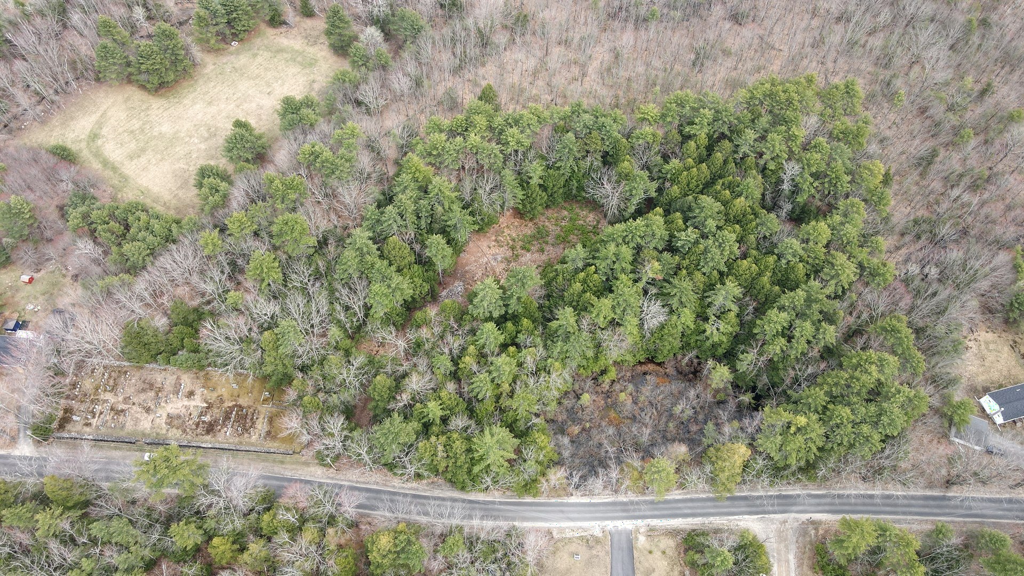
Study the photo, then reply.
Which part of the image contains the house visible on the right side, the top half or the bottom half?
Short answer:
bottom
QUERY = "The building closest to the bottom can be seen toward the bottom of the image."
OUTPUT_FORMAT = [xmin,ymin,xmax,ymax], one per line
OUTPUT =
[980,379,1024,424]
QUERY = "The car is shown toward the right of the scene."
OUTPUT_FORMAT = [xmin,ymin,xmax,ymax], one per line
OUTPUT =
[984,444,1006,458]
